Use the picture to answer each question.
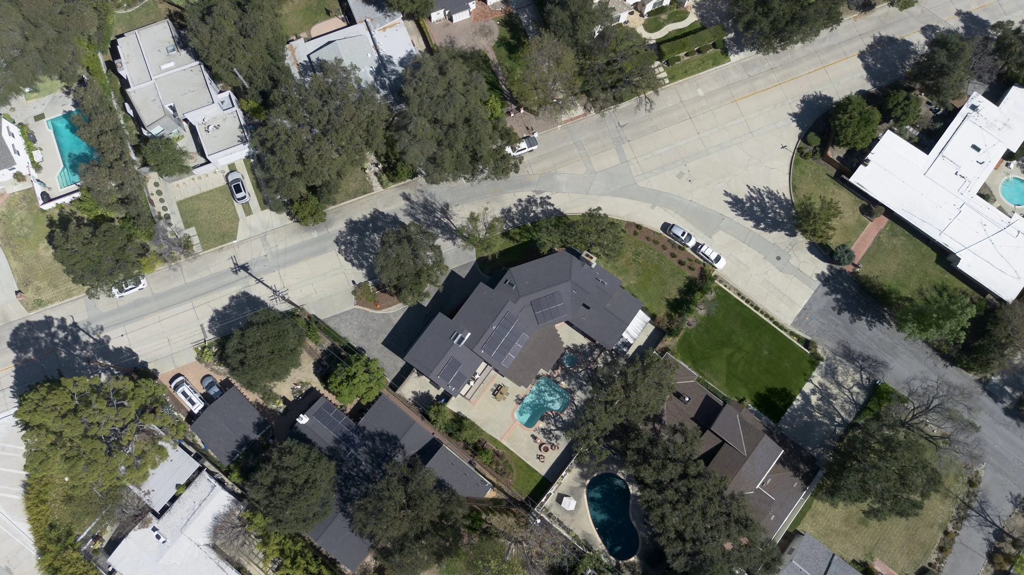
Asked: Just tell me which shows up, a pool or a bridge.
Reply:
pool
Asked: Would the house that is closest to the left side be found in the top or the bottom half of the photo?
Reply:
top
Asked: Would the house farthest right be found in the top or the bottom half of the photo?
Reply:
top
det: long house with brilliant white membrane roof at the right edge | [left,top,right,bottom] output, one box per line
[849,86,1024,303]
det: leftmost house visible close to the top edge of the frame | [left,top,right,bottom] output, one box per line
[113,19,259,168]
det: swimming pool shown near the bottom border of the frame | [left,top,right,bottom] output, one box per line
[584,470,642,562]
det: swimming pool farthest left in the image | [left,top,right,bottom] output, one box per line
[43,104,109,191]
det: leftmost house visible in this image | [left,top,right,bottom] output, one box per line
[0,116,38,193]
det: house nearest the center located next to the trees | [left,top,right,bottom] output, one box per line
[405,249,643,397]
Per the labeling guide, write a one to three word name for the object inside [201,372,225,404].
car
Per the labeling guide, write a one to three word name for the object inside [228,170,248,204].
car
